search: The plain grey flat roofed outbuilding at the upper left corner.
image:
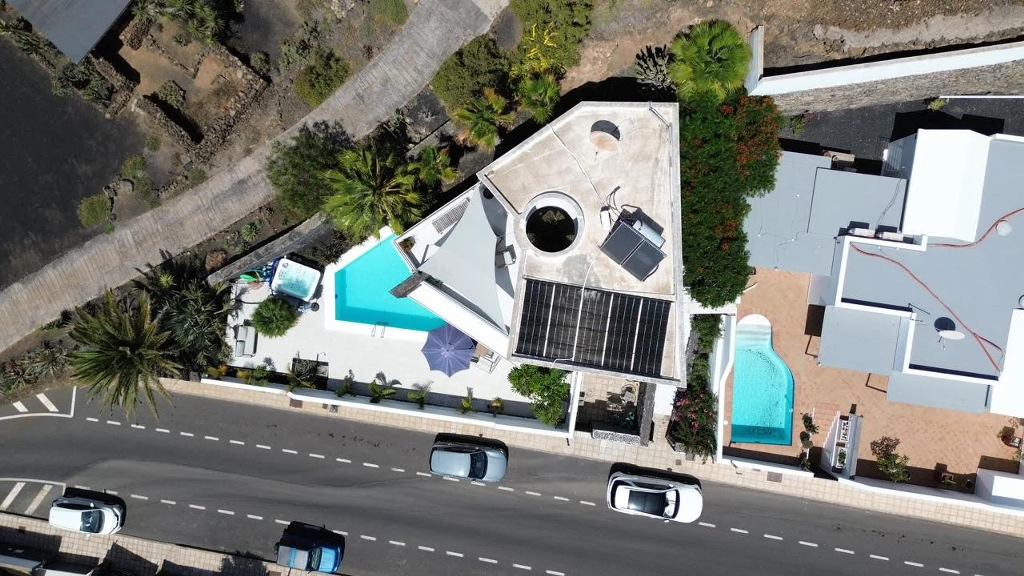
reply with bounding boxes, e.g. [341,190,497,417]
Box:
[29,0,141,65]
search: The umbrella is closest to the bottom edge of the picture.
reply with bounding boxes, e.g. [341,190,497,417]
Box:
[421,321,477,377]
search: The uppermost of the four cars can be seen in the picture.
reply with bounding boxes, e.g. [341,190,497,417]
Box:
[426,437,508,484]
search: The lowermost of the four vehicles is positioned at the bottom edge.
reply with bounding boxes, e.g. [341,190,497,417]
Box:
[271,529,345,573]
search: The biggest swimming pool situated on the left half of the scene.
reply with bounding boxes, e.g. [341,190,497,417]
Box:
[324,223,453,341]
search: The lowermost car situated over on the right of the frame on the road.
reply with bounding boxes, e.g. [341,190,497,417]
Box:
[606,470,703,525]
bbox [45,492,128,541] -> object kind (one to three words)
car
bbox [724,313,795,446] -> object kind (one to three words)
swimming pool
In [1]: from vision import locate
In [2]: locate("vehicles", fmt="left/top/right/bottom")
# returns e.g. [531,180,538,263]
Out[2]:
[271,529,345,573]
[606,470,703,525]
[45,492,128,541]
[426,437,508,484]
